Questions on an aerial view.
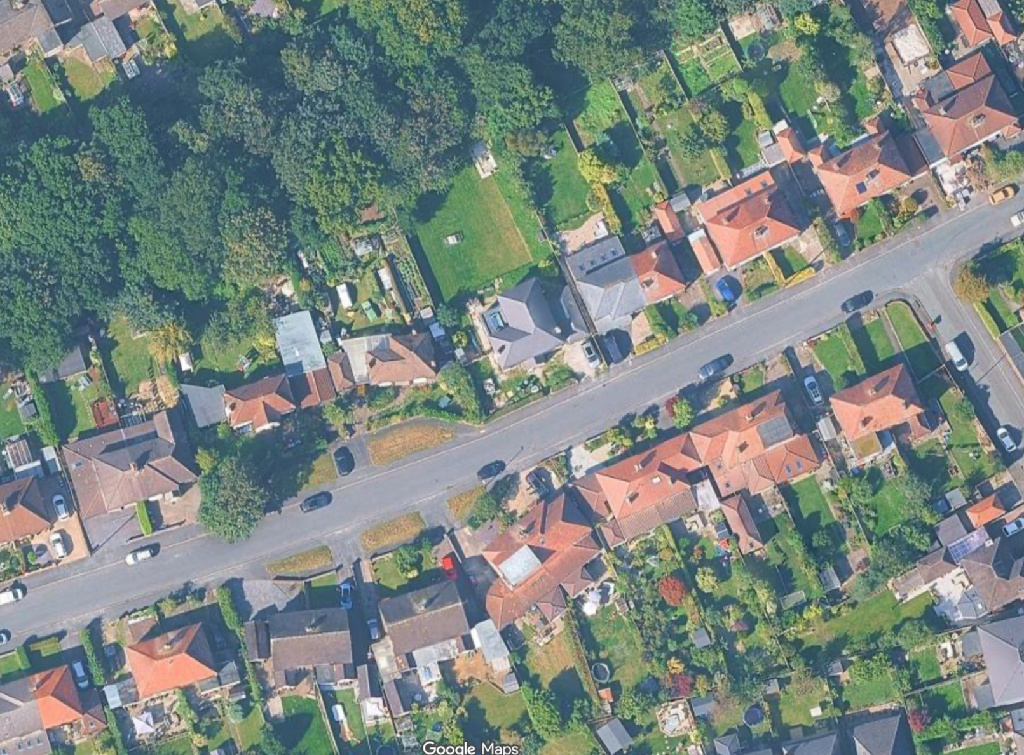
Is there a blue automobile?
Yes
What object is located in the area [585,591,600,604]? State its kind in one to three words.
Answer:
umbrella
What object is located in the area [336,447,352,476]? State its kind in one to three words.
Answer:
car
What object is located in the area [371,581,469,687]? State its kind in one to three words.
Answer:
house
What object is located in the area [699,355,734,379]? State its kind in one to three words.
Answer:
car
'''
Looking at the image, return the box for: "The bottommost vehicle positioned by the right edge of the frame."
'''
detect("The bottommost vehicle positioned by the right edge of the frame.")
[1000,516,1024,538]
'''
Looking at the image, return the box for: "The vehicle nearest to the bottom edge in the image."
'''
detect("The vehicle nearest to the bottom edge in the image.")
[71,659,89,689]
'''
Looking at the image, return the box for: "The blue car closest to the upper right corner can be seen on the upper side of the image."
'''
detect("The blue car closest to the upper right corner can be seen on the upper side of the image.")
[833,218,852,247]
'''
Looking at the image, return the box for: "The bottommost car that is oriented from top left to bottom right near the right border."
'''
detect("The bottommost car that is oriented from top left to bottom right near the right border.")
[994,423,1020,456]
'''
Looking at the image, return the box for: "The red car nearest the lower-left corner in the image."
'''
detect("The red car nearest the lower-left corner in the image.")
[441,552,458,581]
